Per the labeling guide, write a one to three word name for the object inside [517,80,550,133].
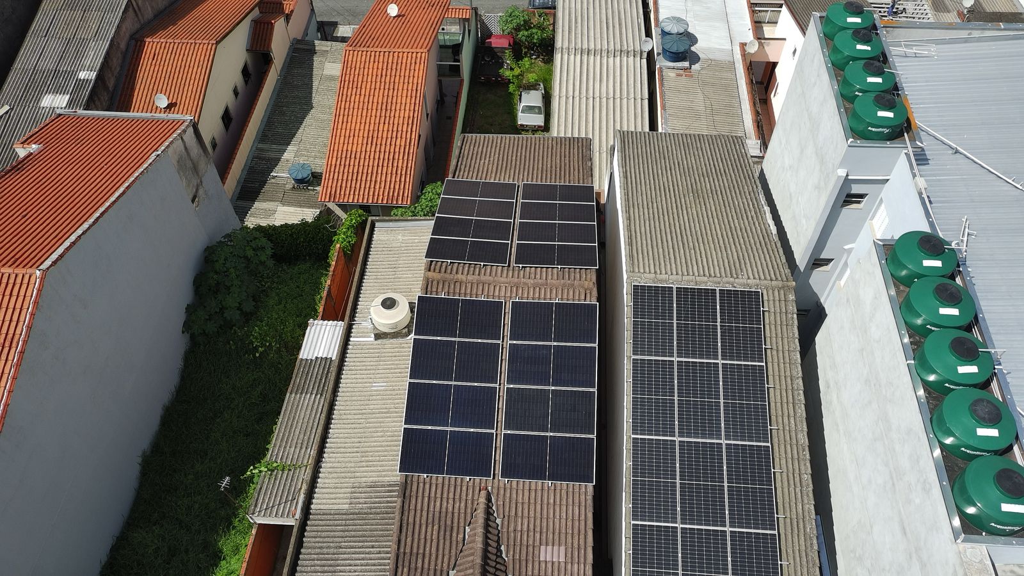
car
